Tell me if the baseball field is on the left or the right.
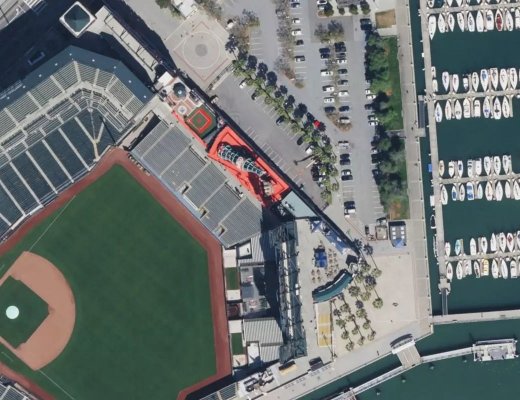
left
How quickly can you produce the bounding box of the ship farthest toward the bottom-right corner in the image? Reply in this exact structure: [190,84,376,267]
[472,337,518,362]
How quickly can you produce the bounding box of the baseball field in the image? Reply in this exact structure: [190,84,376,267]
[0,147,231,400]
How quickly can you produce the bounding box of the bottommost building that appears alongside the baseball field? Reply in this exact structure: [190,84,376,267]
[194,361,282,400]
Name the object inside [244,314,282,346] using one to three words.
shed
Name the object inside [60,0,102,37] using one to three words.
building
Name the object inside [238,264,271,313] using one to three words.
building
